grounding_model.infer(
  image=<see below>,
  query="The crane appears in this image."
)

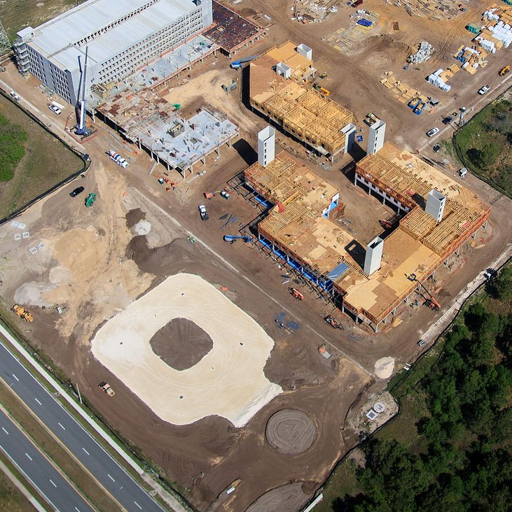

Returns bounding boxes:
[71,44,97,141]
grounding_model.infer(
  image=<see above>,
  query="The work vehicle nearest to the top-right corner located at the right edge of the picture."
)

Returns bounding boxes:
[497,60,512,78]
